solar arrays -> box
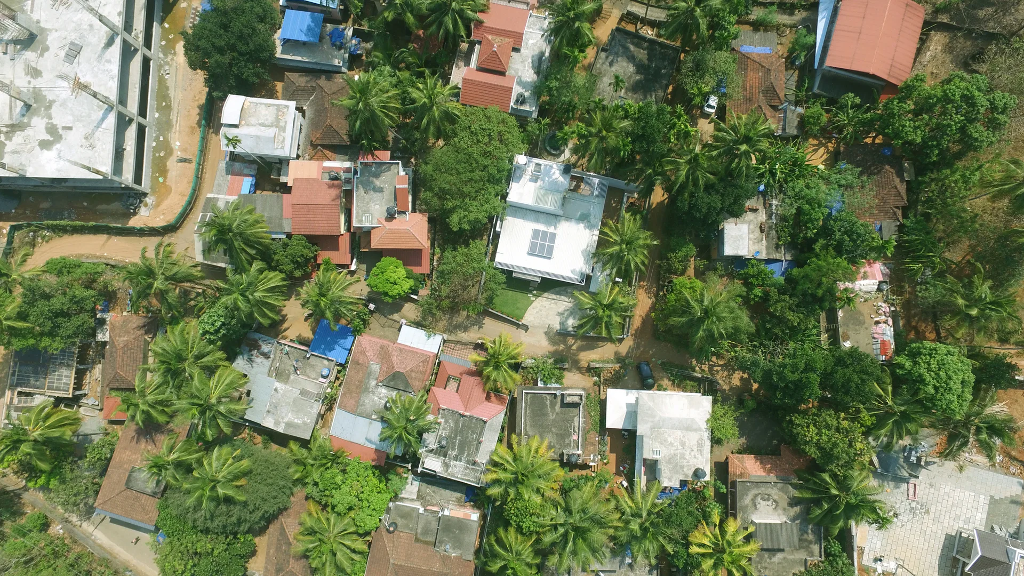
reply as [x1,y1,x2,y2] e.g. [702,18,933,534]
[529,229,556,258]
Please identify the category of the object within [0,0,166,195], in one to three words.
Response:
building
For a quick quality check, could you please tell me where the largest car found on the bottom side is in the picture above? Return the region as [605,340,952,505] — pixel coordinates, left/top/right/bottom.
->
[637,359,658,388]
